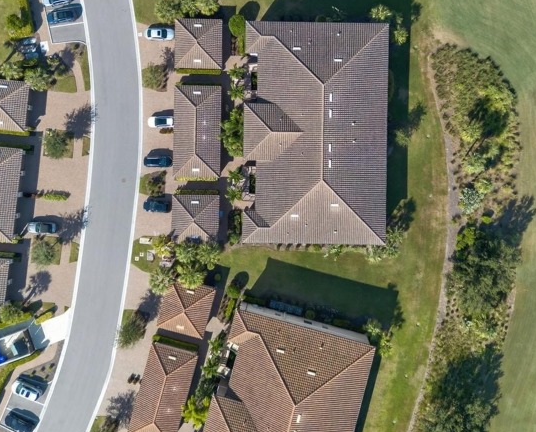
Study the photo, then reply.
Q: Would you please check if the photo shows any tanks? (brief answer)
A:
No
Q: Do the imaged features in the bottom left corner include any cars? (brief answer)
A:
Yes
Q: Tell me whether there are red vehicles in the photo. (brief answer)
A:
No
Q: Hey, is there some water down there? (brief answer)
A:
No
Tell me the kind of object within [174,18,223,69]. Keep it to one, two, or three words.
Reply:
building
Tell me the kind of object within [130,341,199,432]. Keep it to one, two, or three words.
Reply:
building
